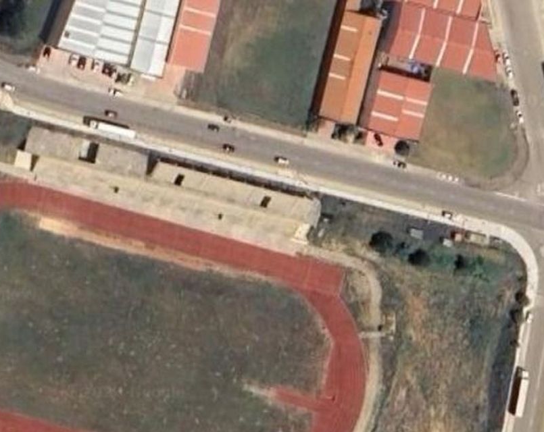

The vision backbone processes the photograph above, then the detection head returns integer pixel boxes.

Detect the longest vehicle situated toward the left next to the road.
[92,121,135,137]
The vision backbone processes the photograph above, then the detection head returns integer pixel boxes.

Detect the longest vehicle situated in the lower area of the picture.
[513,373,530,415]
